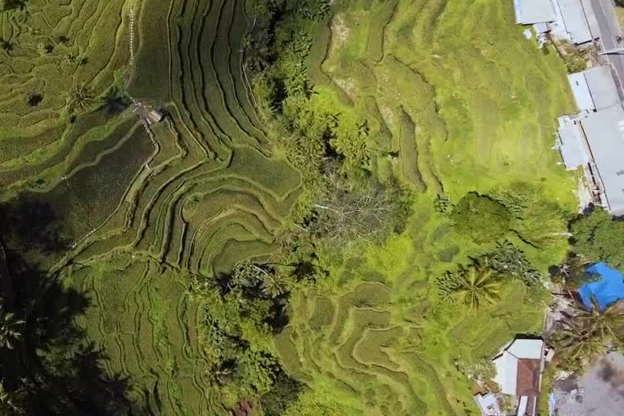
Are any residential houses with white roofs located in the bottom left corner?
No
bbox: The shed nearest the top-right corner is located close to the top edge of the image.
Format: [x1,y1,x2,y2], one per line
[550,0,601,44]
